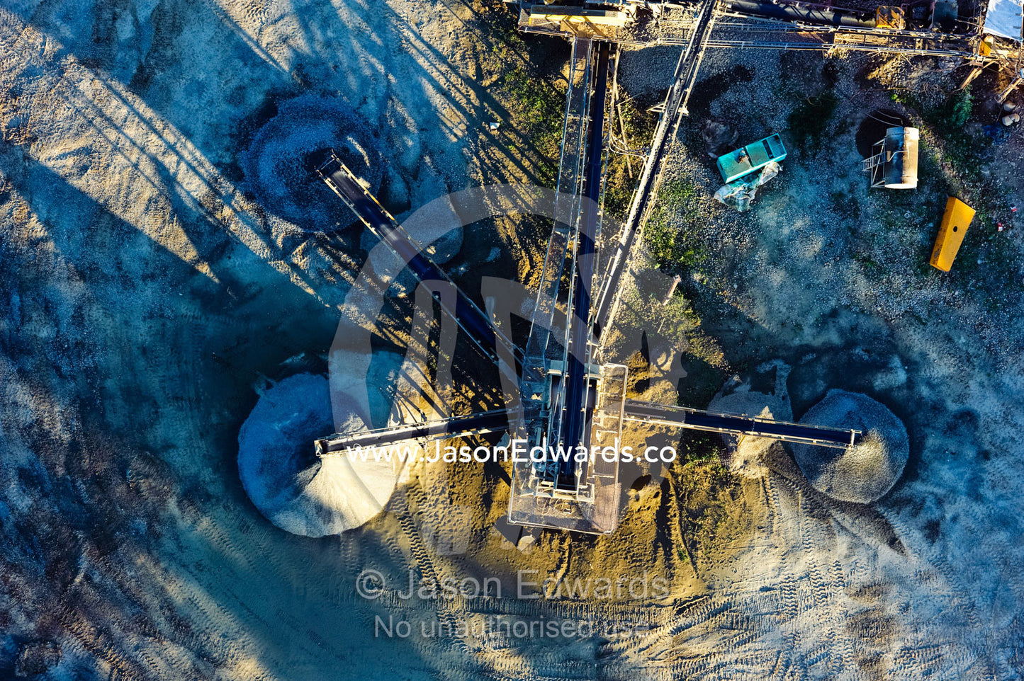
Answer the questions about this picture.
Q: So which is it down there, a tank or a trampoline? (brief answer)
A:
tank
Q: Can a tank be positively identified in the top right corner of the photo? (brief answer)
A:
Yes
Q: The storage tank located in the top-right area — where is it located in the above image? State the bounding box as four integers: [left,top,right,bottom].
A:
[855,123,920,193]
